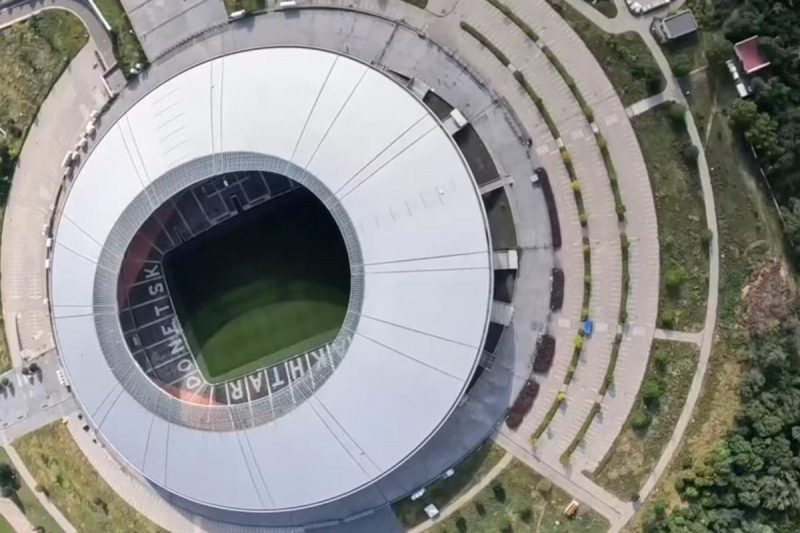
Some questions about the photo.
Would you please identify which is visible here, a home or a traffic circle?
home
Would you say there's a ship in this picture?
No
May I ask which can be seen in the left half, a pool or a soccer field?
soccer field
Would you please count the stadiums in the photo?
one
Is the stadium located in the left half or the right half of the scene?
left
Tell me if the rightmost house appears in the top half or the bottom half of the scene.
top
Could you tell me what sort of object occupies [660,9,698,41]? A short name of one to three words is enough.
house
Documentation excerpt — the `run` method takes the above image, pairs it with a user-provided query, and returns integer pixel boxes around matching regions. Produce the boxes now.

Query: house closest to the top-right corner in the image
[730,37,769,74]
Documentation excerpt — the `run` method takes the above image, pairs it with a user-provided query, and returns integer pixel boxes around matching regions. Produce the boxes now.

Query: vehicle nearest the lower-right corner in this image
[562,499,579,517]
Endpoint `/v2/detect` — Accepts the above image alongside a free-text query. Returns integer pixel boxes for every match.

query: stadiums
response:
[49,47,493,513]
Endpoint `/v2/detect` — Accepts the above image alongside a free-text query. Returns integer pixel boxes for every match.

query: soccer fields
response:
[159,181,365,383]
